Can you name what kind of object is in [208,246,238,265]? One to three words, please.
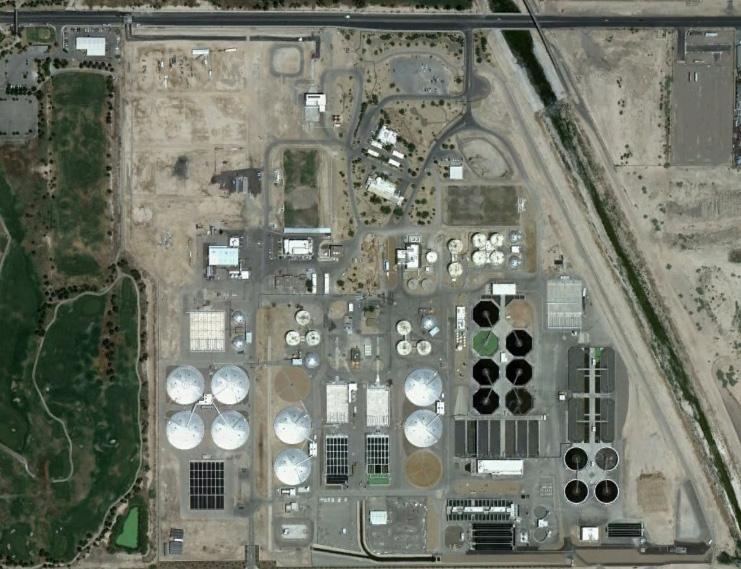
building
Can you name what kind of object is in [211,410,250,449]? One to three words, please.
storage tank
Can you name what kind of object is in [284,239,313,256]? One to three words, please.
building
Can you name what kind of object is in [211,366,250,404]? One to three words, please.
storage tank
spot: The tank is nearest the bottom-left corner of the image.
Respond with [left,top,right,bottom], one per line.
[166,410,204,449]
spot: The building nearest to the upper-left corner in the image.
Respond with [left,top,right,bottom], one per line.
[75,37,105,56]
